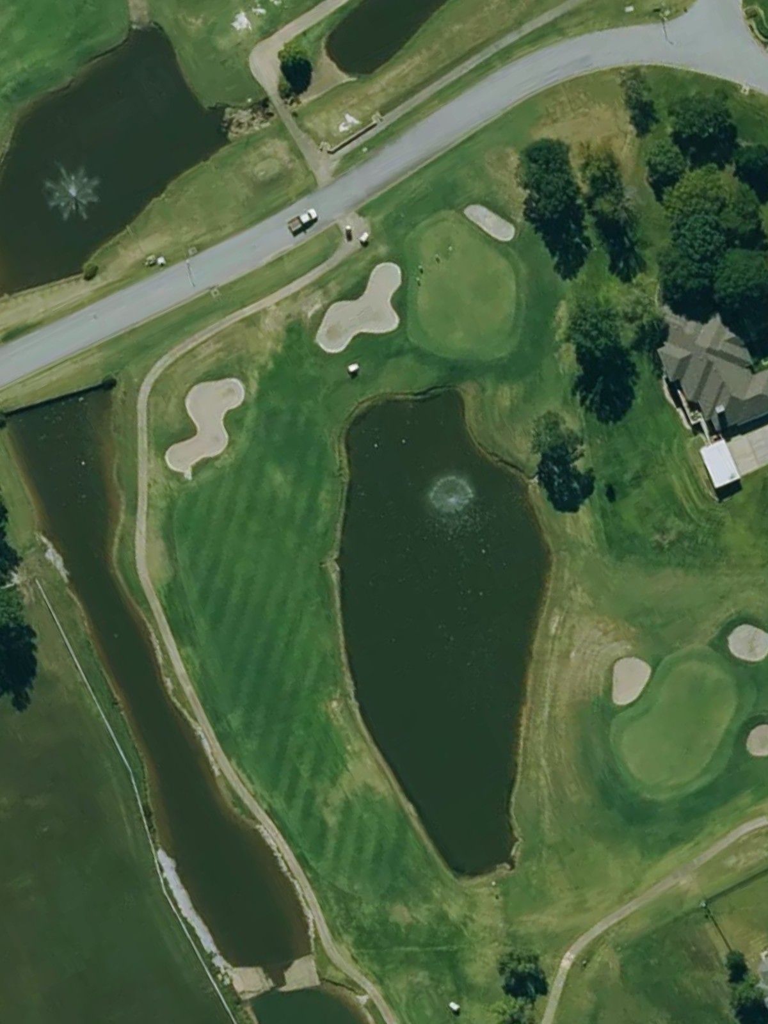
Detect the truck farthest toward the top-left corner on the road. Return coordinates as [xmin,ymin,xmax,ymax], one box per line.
[287,210,318,233]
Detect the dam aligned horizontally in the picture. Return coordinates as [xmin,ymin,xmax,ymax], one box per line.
[233,954,320,1000]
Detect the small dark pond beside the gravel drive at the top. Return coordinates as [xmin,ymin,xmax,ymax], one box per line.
[326,0,448,76]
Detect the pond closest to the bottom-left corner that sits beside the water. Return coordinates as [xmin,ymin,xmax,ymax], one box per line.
[243,983,367,1024]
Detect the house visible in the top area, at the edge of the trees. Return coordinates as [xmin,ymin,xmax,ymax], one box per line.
[660,308,768,431]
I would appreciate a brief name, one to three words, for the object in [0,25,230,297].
pond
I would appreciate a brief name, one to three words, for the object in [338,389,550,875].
pond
